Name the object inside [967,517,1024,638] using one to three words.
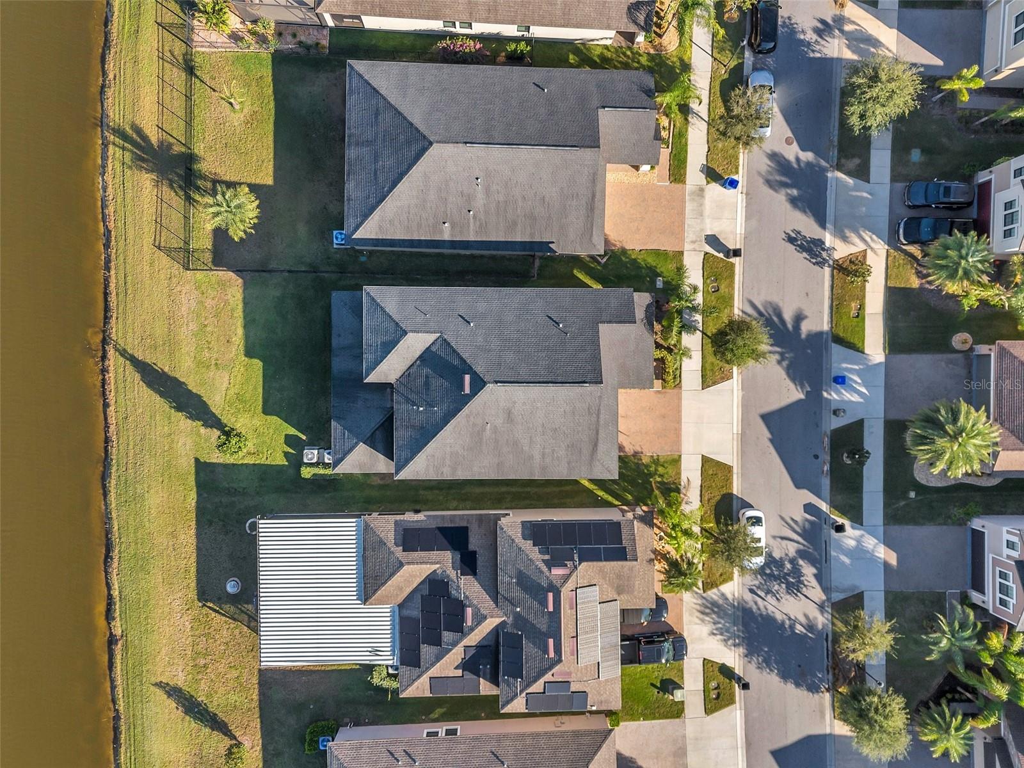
house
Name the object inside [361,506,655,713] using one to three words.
house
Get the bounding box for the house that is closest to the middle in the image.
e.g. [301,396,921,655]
[331,285,656,480]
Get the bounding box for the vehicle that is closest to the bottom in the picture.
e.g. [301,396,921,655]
[620,630,684,663]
